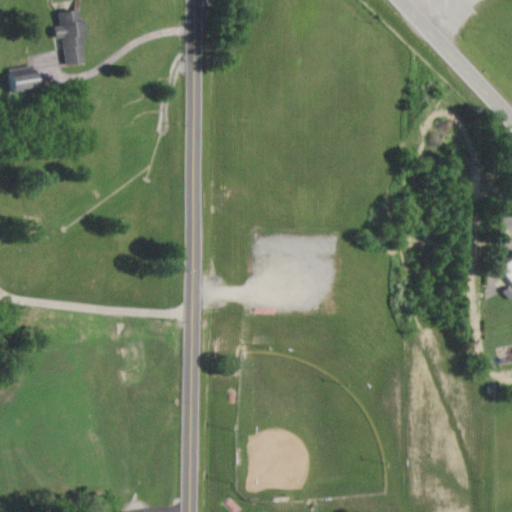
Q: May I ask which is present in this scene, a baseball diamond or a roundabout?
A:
baseball diamond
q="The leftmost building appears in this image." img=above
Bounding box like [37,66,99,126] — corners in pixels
[8,66,42,92]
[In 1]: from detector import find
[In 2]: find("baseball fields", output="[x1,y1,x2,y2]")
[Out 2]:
[236,350,385,502]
